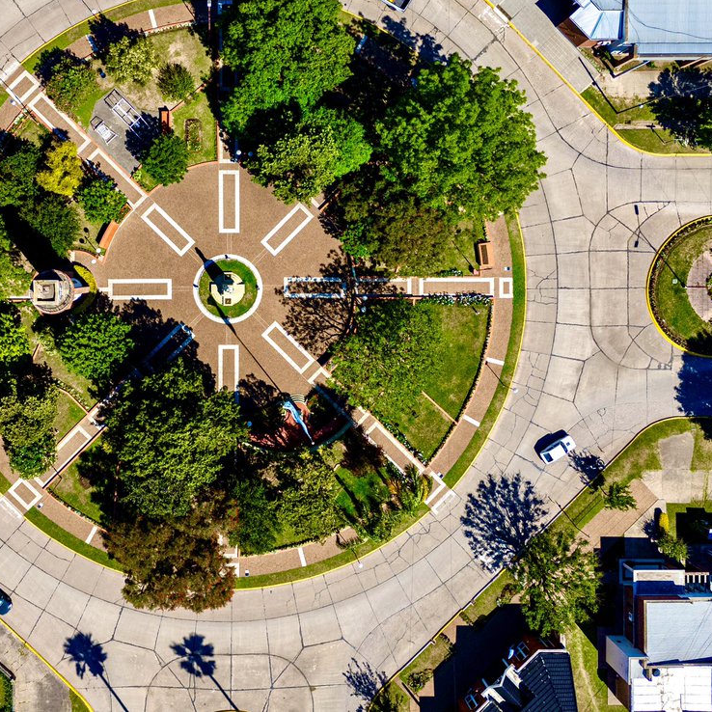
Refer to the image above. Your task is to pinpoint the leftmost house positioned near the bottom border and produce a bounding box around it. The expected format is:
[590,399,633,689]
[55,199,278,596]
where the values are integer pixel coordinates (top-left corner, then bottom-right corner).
[449,635,576,712]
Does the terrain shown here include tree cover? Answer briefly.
Yes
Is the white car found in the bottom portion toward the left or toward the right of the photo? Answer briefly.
right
